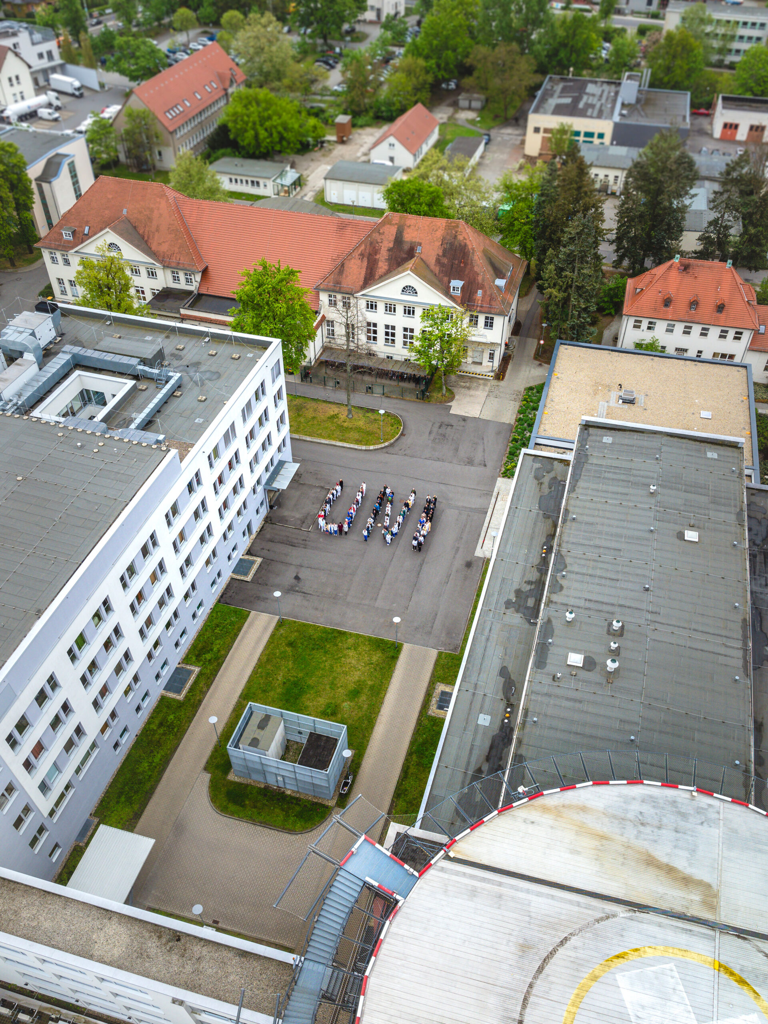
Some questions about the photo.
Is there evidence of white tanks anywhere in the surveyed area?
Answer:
No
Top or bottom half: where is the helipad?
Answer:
bottom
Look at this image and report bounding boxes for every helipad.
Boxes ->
[352,778,768,1024]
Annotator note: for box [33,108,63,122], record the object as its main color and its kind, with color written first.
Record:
white vehicle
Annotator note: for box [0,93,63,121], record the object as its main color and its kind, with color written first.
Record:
white truck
